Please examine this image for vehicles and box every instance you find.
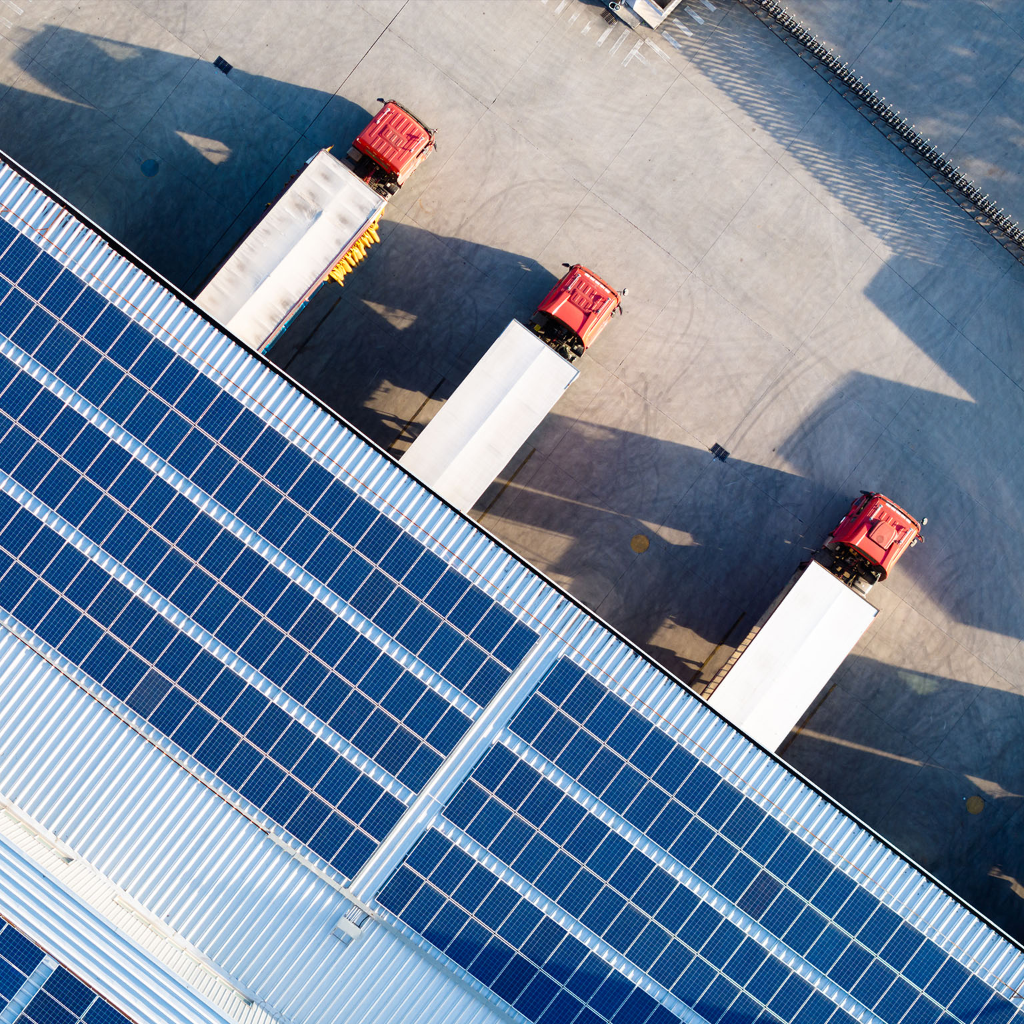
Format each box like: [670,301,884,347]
[197,98,443,356]
[403,257,634,509]
[703,482,928,746]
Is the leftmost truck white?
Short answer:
Yes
